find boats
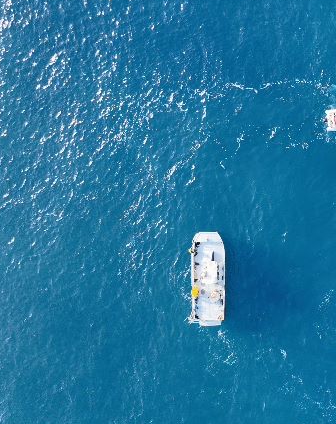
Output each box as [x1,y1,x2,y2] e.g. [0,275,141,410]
[321,109,336,132]
[189,233,227,327]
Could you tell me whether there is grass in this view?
No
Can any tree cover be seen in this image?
No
